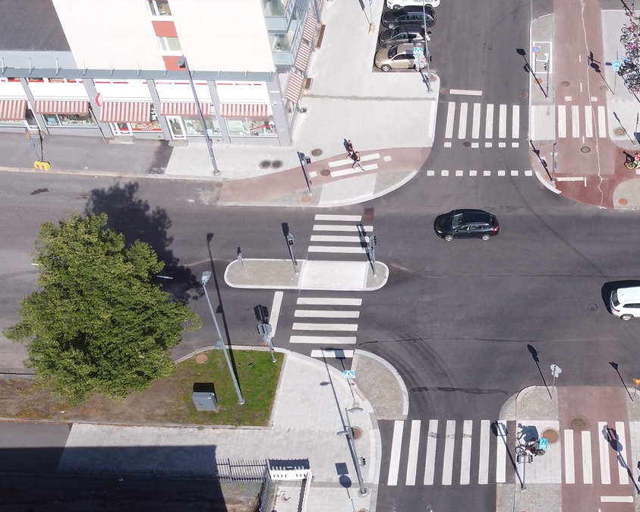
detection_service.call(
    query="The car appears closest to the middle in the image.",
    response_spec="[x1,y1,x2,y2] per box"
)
[434,208,501,240]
